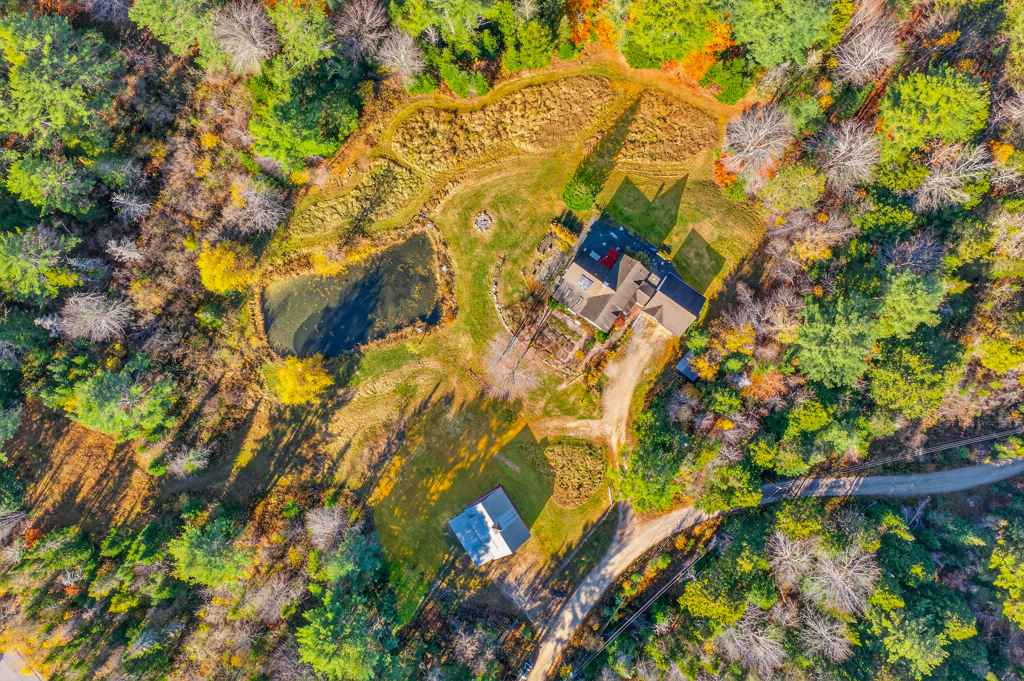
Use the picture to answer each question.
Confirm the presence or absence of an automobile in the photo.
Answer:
No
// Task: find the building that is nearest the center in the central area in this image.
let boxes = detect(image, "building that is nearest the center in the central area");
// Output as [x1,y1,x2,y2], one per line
[551,250,655,333]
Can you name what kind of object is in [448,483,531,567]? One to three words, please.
barn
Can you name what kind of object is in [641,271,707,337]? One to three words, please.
building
